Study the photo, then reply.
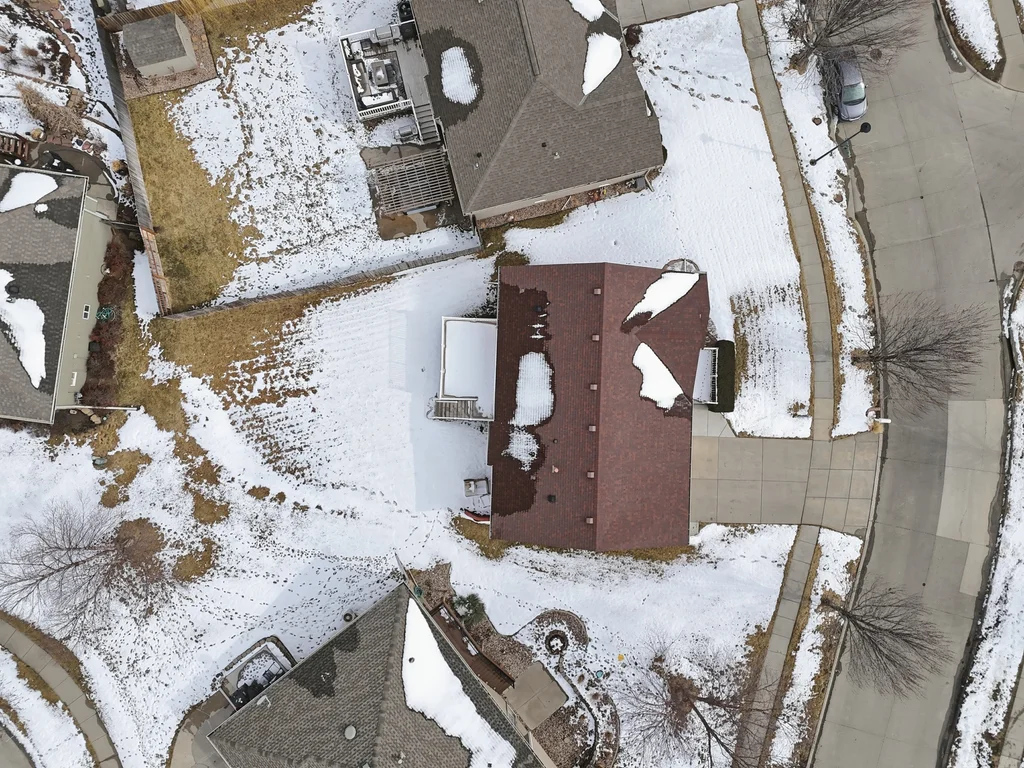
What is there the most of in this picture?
grass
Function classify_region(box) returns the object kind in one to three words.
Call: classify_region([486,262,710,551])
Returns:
house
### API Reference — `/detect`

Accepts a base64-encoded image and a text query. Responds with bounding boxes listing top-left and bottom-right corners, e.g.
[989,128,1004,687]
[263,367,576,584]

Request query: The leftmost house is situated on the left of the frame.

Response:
[0,158,114,425]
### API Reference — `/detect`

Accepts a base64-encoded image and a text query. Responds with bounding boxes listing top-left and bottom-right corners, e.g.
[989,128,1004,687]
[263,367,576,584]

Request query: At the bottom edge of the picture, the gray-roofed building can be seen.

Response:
[207,578,564,768]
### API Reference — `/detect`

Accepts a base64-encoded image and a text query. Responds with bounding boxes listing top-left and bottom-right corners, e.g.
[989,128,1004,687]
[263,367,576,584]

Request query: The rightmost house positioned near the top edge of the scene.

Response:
[410,0,664,220]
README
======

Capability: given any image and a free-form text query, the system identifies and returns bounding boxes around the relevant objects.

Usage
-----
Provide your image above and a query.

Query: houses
[0,158,114,425]
[486,262,710,551]
[410,0,664,220]
[207,578,564,768]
